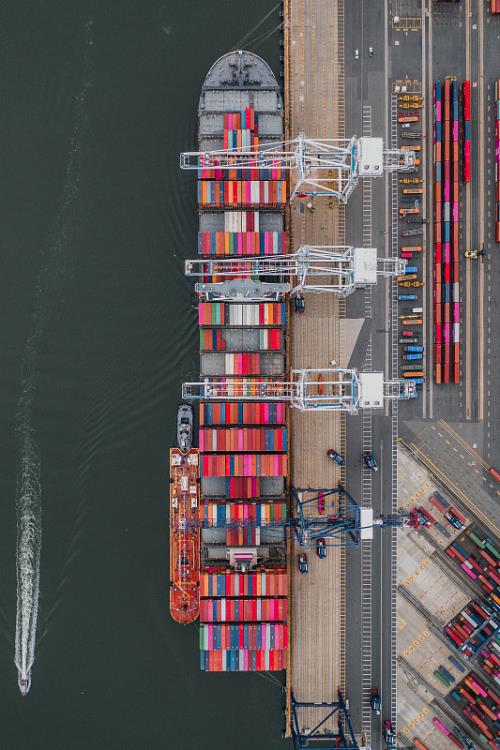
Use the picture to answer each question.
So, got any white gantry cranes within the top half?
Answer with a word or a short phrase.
Yes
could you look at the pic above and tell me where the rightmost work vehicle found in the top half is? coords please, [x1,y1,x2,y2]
[464,242,488,263]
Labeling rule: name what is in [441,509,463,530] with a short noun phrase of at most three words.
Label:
work vehicle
